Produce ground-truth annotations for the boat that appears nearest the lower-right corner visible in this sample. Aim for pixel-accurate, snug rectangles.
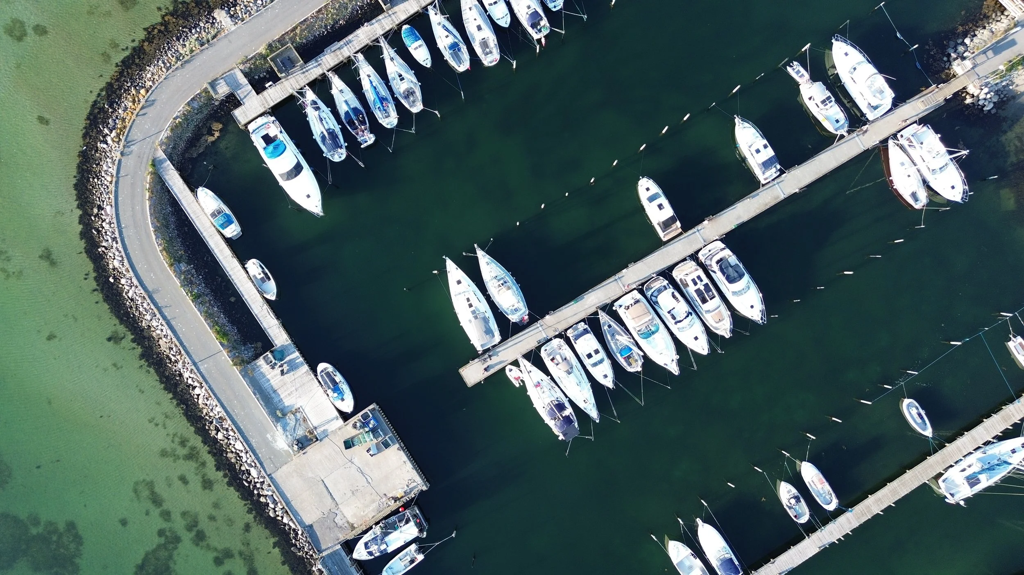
[933,438,1024,508]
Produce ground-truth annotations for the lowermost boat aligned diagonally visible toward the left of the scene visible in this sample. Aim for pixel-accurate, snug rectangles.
[378,544,424,575]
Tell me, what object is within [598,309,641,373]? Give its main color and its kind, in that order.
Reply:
white boat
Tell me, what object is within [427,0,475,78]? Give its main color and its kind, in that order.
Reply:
white boat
